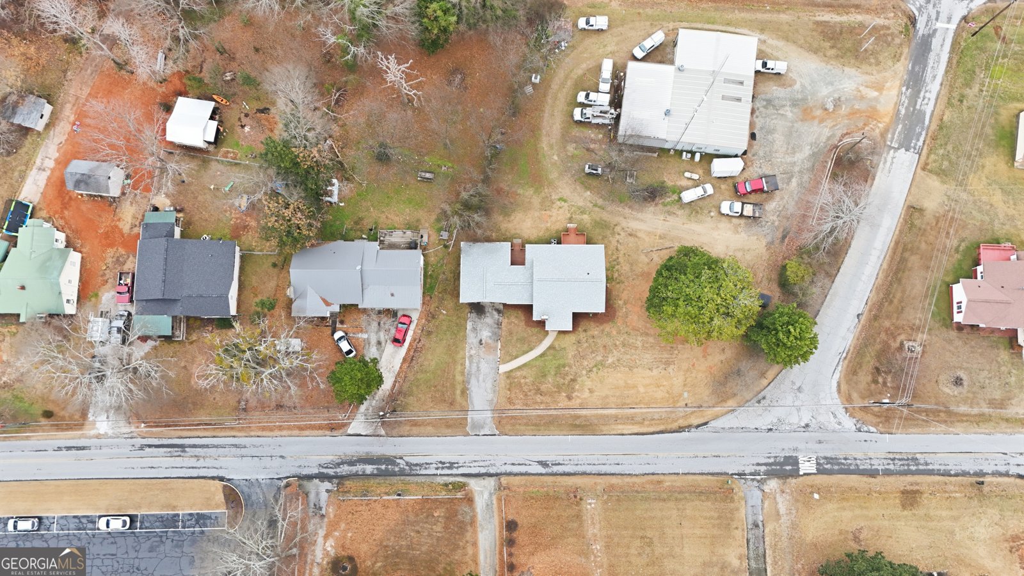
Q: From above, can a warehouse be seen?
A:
Yes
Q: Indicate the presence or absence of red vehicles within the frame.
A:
Yes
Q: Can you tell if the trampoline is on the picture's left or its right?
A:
left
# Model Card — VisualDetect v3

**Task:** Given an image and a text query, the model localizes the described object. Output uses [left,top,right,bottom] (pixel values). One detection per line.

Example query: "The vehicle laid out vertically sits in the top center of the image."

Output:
[597,57,615,92]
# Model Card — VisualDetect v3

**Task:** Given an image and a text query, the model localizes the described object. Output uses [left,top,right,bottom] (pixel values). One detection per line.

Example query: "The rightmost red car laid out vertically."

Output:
[393,314,411,348]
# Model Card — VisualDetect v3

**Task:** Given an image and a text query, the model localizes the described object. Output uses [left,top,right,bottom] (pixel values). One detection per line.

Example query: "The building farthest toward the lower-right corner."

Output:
[947,252,1024,345]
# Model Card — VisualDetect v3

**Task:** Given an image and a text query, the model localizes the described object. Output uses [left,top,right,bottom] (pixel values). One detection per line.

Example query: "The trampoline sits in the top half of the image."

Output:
[0,197,36,235]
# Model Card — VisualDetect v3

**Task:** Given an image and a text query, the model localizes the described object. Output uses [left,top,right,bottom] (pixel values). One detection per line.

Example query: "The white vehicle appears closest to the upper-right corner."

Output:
[755,58,788,76]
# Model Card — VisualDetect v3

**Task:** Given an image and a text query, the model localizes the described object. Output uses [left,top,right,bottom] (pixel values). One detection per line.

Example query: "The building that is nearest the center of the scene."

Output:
[460,240,607,331]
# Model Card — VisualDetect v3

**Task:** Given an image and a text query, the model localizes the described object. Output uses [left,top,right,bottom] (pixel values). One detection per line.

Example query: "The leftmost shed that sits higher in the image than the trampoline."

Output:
[1,94,56,135]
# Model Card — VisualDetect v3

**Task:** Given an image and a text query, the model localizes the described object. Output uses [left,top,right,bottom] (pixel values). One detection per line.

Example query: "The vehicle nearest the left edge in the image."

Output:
[8,516,42,532]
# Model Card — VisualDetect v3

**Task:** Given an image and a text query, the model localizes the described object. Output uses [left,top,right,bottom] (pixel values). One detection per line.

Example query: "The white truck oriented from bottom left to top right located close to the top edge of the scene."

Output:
[631,27,667,61]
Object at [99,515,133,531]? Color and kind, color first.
white car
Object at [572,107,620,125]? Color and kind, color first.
white vehicle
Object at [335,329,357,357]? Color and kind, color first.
white car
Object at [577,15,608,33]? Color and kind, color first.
white vehicle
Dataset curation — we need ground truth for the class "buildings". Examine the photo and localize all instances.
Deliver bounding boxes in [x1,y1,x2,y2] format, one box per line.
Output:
[286,240,423,317]
[0,217,83,322]
[549,20,572,44]
[1014,113,1024,170]
[133,211,243,340]
[617,28,758,156]
[1,94,56,135]
[947,252,1024,345]
[460,240,607,331]
[166,97,222,151]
